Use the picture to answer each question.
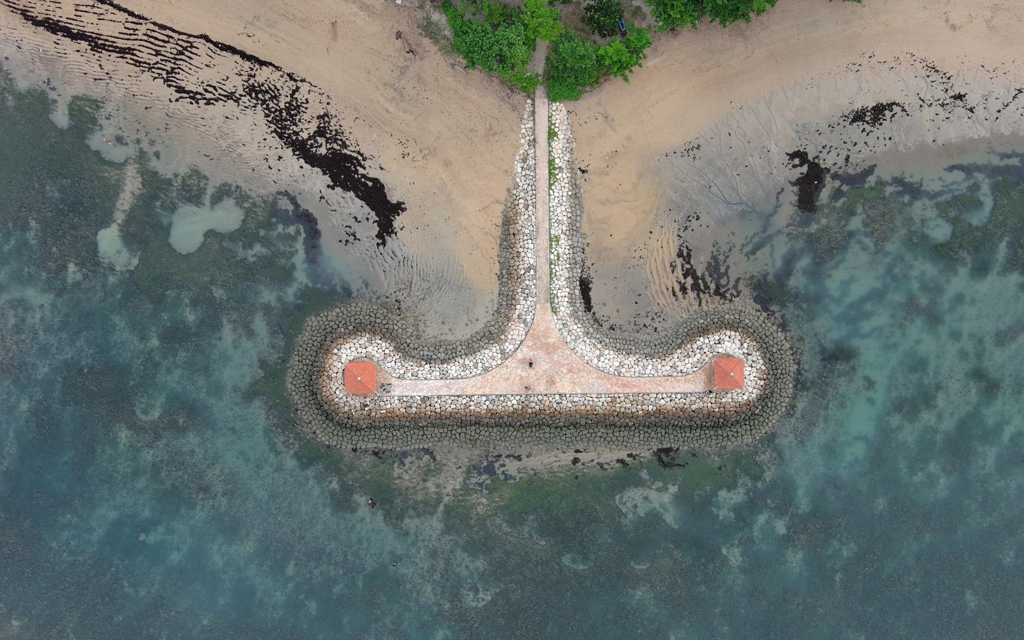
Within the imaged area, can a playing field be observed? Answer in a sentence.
No, no playing field is visible in the view.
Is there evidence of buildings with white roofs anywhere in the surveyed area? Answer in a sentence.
No, there isn't any building with a white roof down there.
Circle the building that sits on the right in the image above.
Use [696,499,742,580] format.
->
[707,356,746,392]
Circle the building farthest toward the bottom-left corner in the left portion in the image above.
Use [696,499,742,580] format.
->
[343,361,381,396]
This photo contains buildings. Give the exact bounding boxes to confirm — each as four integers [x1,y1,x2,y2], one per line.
[343,361,381,396]
[707,356,746,392]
